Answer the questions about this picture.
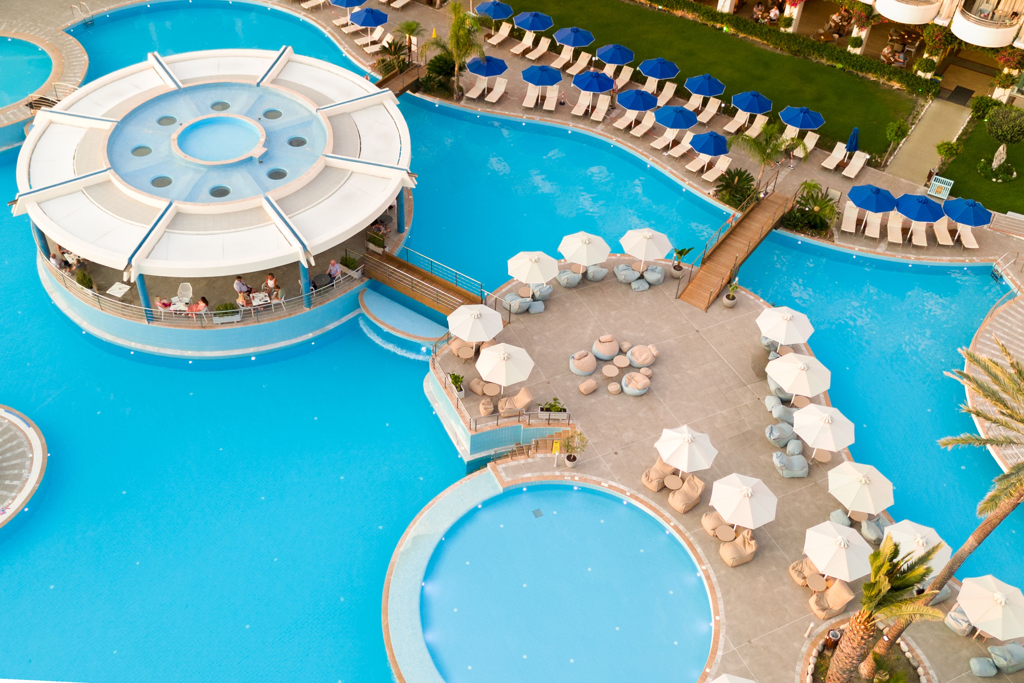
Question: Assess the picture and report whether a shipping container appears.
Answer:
No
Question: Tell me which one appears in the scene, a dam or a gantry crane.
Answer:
dam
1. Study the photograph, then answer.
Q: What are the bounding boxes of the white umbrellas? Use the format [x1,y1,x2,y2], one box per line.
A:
[958,576,1024,644]
[711,475,779,534]
[559,234,611,285]
[791,406,855,464]
[824,464,890,524]
[477,344,535,397]
[758,308,810,355]
[621,229,672,279]
[449,304,506,360]
[656,424,719,480]
[802,522,873,584]
[769,355,828,408]
[509,251,561,303]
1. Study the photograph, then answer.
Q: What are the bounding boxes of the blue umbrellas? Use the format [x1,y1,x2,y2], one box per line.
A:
[514,12,553,52]
[330,0,365,25]
[841,128,858,171]
[467,58,508,79]
[654,106,698,150]
[684,75,726,116]
[734,92,773,131]
[596,45,636,81]
[779,107,824,142]
[689,131,734,175]
[848,185,897,232]
[896,195,943,242]
[476,0,515,24]
[350,7,390,34]
[615,89,658,132]
[522,66,564,109]
[555,27,595,68]
[574,73,615,115]
[942,198,991,245]
[640,57,682,98]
